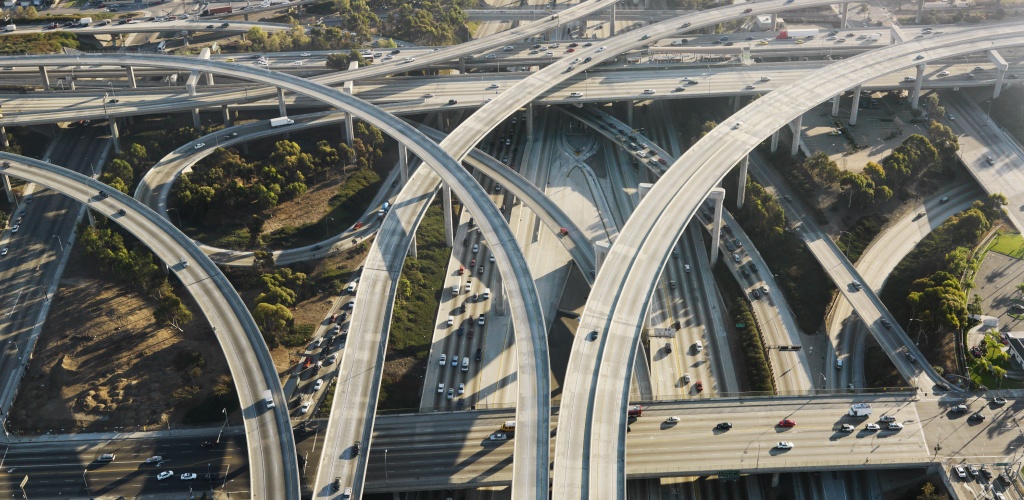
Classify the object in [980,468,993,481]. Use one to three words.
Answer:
vehicle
